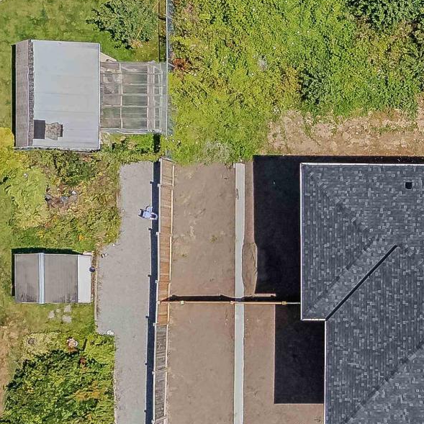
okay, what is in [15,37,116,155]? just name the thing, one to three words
shed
